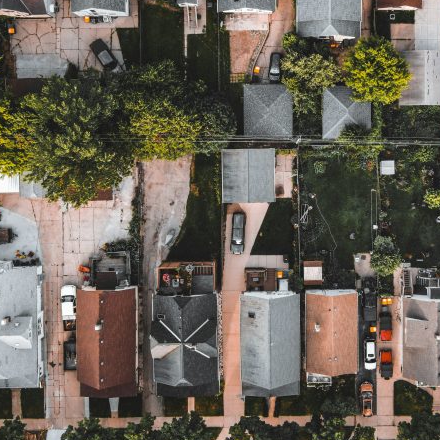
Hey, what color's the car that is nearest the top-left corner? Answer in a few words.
black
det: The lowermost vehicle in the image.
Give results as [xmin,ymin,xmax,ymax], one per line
[360,380,374,418]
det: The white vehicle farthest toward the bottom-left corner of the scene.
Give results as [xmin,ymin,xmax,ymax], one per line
[58,284,76,330]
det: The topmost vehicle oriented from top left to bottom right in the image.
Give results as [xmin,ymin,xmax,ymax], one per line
[90,38,117,71]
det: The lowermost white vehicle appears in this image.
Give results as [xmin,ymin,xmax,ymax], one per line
[363,338,378,371]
